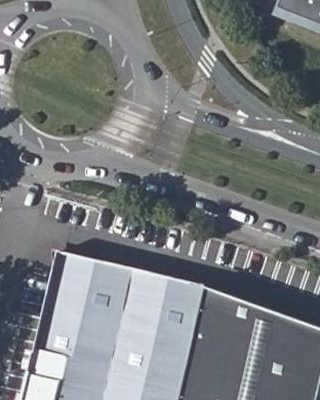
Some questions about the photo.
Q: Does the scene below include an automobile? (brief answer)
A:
Yes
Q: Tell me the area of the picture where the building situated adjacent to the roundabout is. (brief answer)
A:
bottom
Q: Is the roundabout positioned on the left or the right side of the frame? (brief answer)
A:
left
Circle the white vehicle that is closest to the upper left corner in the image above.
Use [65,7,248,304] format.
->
[4,15,24,36]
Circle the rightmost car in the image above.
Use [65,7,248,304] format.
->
[292,234,316,247]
